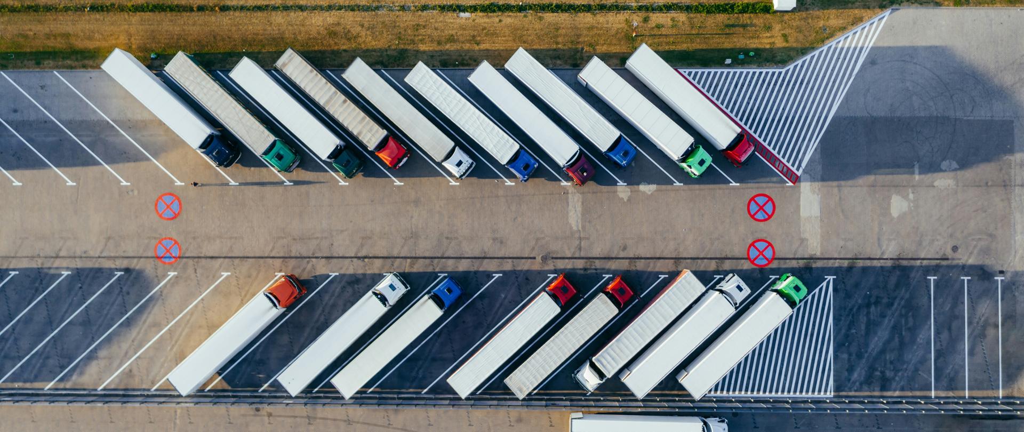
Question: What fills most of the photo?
paved ground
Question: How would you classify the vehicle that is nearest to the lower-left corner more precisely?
truck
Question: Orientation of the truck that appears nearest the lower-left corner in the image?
diagonally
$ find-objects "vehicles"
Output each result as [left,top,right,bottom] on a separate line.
[331,276,464,399]
[278,271,411,396]
[576,56,712,175]
[405,62,539,182]
[624,44,757,166]
[100,47,242,169]
[274,47,410,169]
[574,270,705,393]
[468,61,597,185]
[448,274,579,397]
[505,276,636,399]
[164,51,303,174]
[168,274,307,397]
[228,56,365,179]
[676,276,809,399]
[342,58,476,180]
[506,48,638,169]
[620,274,752,398]
[570,411,727,432]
